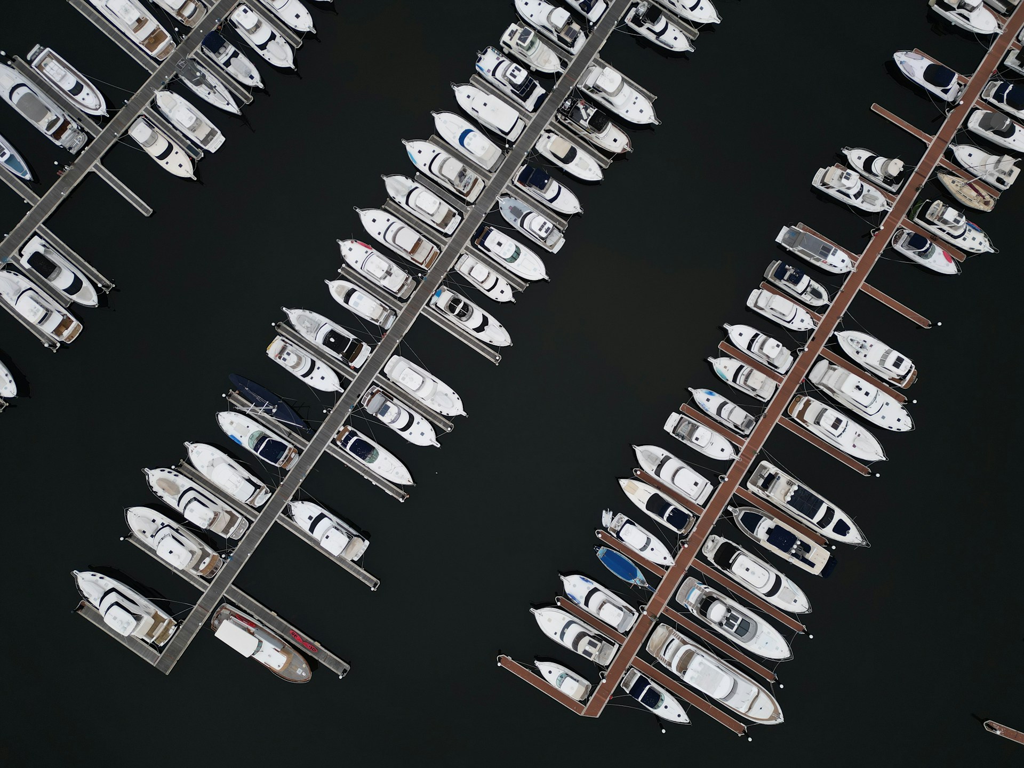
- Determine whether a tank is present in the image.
No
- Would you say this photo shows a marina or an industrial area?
marina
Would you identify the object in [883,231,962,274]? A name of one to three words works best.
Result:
boat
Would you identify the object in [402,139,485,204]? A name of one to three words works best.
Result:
boat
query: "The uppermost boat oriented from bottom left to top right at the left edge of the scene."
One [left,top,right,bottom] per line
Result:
[24,42,43,63]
